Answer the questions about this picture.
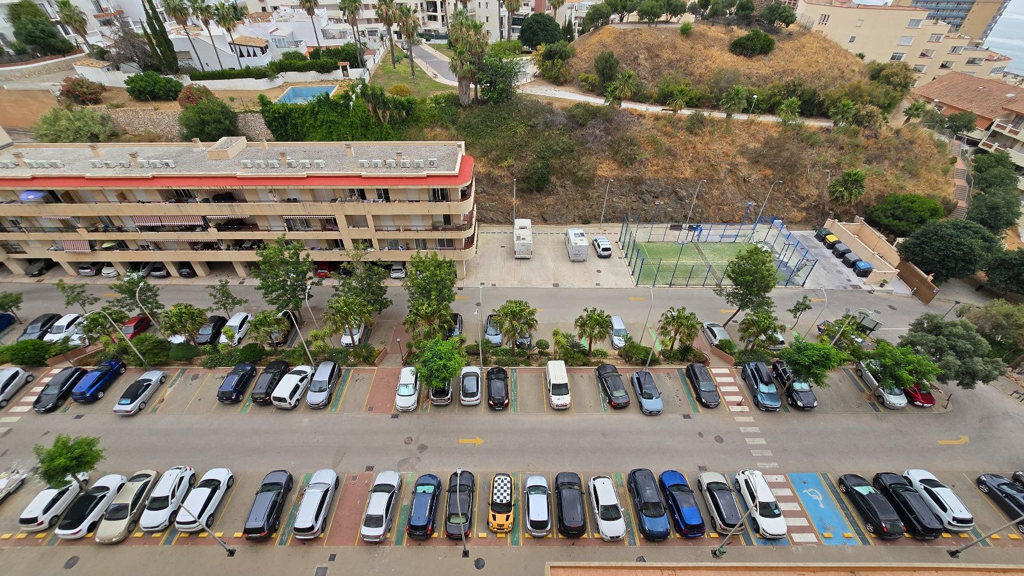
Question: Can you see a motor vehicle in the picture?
Yes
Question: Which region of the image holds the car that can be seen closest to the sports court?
center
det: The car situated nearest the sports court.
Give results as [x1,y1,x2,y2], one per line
[592,235,613,258]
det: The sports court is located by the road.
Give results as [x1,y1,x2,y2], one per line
[614,196,823,286]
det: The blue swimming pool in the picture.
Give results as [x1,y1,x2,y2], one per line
[274,85,336,103]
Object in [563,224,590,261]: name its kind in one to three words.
camper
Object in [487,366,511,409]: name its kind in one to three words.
car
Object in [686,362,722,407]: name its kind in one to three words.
car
